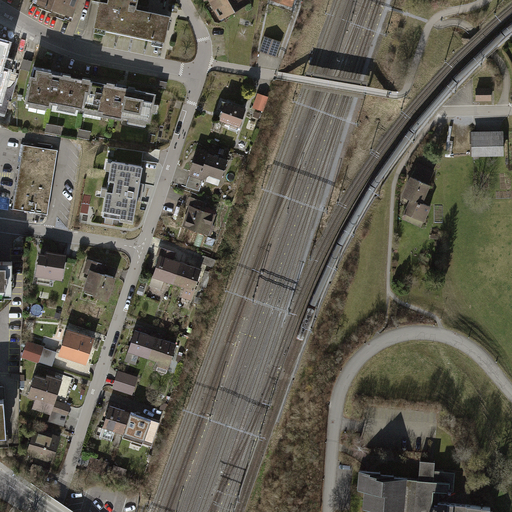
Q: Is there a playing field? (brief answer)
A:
No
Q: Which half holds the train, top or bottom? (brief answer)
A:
top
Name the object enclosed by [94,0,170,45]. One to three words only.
building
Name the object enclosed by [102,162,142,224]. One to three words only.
building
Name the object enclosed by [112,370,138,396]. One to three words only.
house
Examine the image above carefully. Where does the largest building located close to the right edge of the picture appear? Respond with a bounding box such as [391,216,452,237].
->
[471,130,504,158]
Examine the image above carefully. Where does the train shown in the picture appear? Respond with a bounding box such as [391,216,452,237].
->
[298,20,512,338]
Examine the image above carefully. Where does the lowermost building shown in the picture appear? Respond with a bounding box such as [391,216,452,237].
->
[357,473,406,512]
